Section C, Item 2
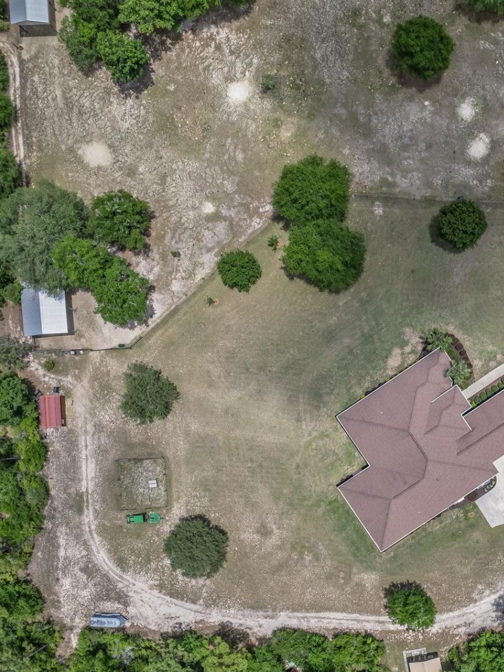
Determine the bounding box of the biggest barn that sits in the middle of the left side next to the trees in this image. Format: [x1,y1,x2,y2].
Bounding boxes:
[20,278,75,337]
